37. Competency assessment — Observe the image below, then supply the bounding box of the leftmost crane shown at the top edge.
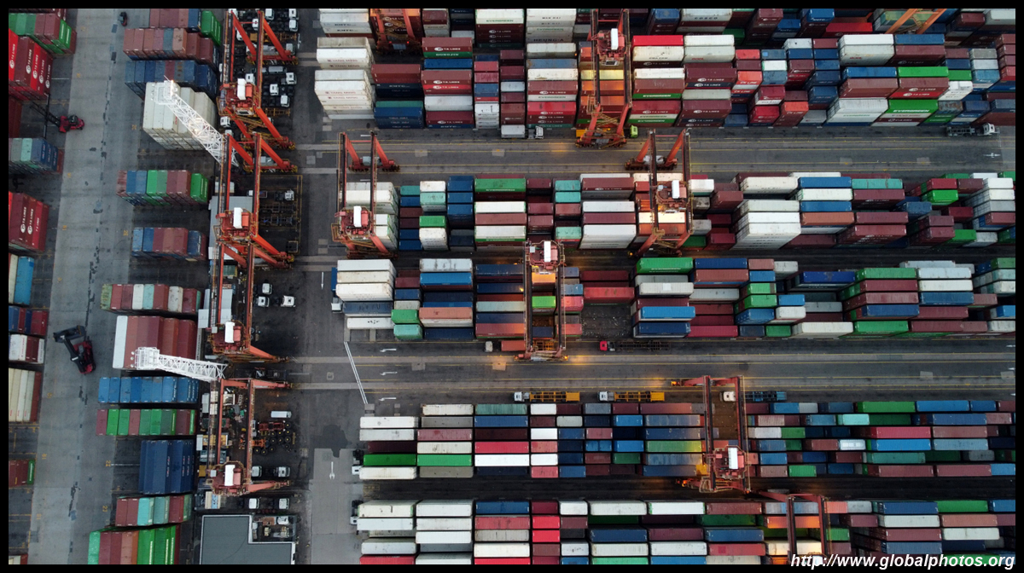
[214,9,303,148]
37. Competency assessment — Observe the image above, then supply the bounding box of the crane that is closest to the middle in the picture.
[513,238,570,362]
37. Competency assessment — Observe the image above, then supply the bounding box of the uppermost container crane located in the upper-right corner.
[884,0,955,35]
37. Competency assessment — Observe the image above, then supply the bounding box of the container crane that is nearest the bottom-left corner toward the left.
[201,378,299,500]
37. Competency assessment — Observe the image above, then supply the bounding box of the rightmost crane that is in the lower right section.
[739,487,833,573]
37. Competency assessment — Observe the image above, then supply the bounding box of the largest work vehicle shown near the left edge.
[47,323,96,377]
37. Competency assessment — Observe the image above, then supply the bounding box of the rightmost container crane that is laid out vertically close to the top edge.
[574,7,633,146]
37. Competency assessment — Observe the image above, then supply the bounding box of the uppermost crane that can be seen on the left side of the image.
[353,0,420,54]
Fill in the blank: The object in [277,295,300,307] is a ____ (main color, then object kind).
white vehicle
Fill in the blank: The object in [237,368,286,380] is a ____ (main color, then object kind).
black vehicle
